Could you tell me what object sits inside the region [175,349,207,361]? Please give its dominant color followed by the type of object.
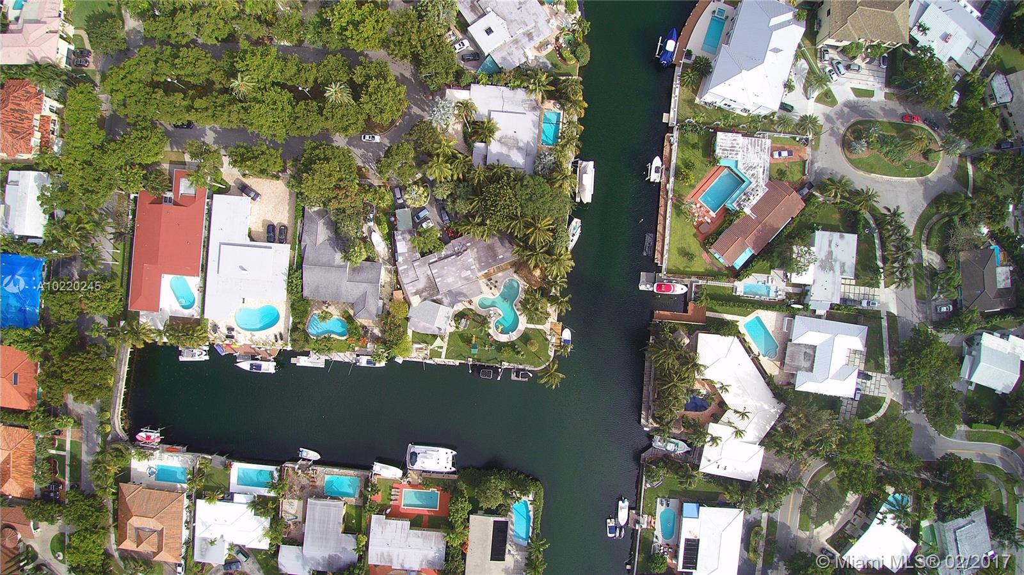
white boat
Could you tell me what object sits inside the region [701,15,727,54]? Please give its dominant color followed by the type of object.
blue swimming pool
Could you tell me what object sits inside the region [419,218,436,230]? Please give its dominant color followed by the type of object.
white vehicle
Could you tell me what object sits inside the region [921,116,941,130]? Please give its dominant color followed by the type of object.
black car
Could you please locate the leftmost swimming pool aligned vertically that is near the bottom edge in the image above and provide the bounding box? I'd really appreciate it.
[511,498,532,547]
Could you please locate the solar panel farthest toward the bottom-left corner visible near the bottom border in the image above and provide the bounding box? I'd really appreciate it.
[489,520,509,562]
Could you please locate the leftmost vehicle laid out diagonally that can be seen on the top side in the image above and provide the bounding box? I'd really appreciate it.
[238,181,260,200]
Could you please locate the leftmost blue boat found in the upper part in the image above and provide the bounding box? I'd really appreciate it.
[656,29,676,69]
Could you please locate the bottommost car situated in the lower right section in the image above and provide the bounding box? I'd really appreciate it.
[818,545,838,561]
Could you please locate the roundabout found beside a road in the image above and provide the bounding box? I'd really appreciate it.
[844,122,941,176]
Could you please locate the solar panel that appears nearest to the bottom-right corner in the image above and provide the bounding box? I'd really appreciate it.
[682,538,699,569]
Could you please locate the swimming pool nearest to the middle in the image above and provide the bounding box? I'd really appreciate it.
[477,275,522,336]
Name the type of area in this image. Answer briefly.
residential area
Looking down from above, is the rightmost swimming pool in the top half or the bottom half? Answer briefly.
bottom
